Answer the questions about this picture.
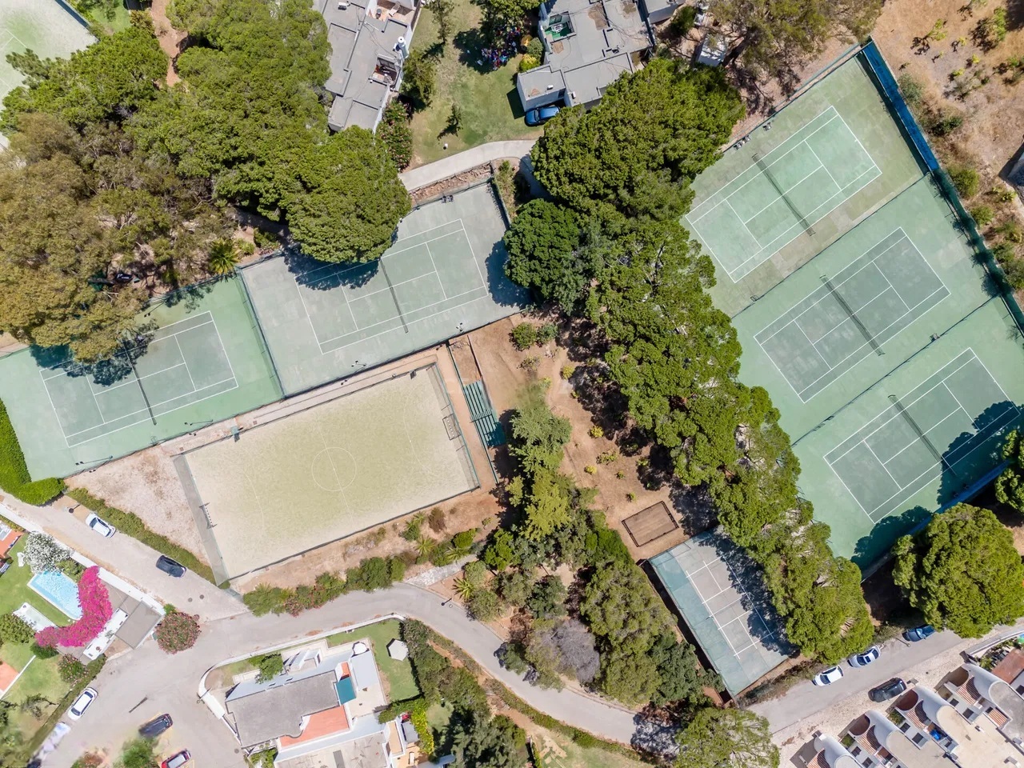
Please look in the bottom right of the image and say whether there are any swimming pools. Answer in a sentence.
No, there's no swimming pool to be seen in the bottom right of the image.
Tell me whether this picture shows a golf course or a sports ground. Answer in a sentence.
The area seen from above is a sports ground.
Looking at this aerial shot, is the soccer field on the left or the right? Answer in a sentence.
It is on the left.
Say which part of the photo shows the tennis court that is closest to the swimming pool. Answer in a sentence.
The tennis court that is closest to the swimming pool appears toward the left of the photo.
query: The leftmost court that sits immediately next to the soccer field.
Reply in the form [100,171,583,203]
[0,271,283,486]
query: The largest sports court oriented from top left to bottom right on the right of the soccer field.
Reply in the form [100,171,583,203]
[647,524,792,695]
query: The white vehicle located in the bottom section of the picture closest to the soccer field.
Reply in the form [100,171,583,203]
[86,511,118,539]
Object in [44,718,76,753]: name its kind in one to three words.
car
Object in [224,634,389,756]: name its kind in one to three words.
house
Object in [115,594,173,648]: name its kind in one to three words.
shed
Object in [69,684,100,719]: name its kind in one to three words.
car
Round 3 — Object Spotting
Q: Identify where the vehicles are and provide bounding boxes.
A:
[867,675,907,702]
[155,552,188,580]
[526,106,559,127]
[139,709,177,738]
[86,511,118,539]
[44,718,76,753]
[161,746,193,768]
[900,620,937,644]
[845,643,883,669]
[69,684,100,719]
[811,664,844,687]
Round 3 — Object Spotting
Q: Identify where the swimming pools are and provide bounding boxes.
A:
[25,569,85,621]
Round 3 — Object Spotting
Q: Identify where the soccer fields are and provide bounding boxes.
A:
[175,364,480,585]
